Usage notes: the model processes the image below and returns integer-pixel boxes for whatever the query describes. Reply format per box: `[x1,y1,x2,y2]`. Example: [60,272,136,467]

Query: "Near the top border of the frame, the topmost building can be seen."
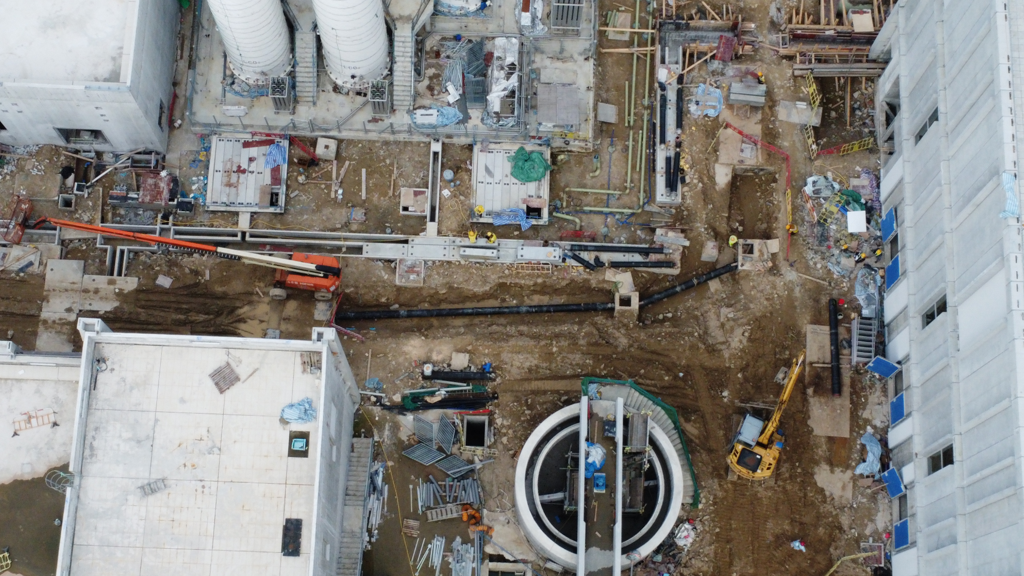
[0,0,181,154]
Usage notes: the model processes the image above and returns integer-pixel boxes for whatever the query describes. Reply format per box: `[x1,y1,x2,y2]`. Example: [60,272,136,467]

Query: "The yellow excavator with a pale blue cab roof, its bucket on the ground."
[727,345,807,481]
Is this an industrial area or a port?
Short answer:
industrial area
